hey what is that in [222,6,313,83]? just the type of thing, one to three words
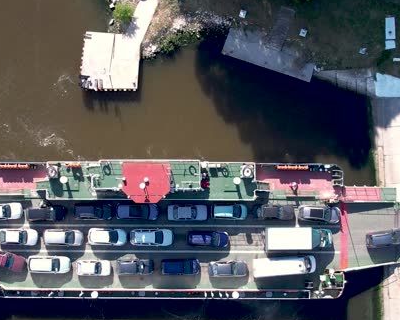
pier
